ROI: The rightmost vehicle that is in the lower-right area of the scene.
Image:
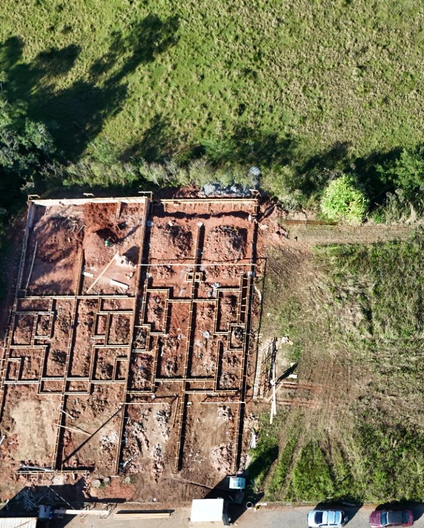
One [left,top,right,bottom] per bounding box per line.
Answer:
[370,509,414,528]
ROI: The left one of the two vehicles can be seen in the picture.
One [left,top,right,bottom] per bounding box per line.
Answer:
[306,509,347,528]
